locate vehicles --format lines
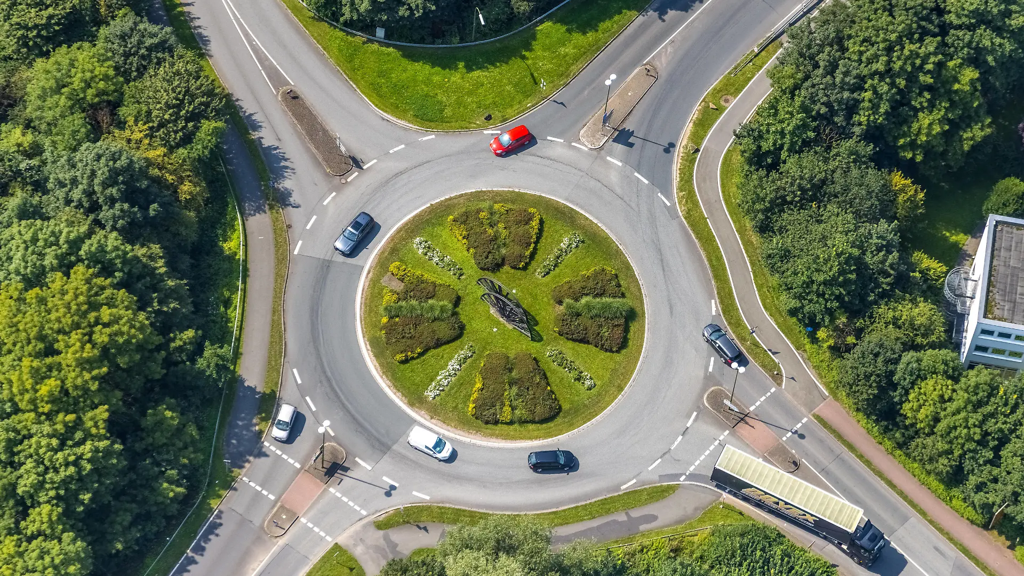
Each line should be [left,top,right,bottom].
[710,444,888,569]
[268,402,301,443]
[331,212,378,256]
[406,423,455,463]
[701,322,745,367]
[528,446,576,472]
[491,123,532,156]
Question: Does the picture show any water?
No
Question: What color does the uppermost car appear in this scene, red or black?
red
